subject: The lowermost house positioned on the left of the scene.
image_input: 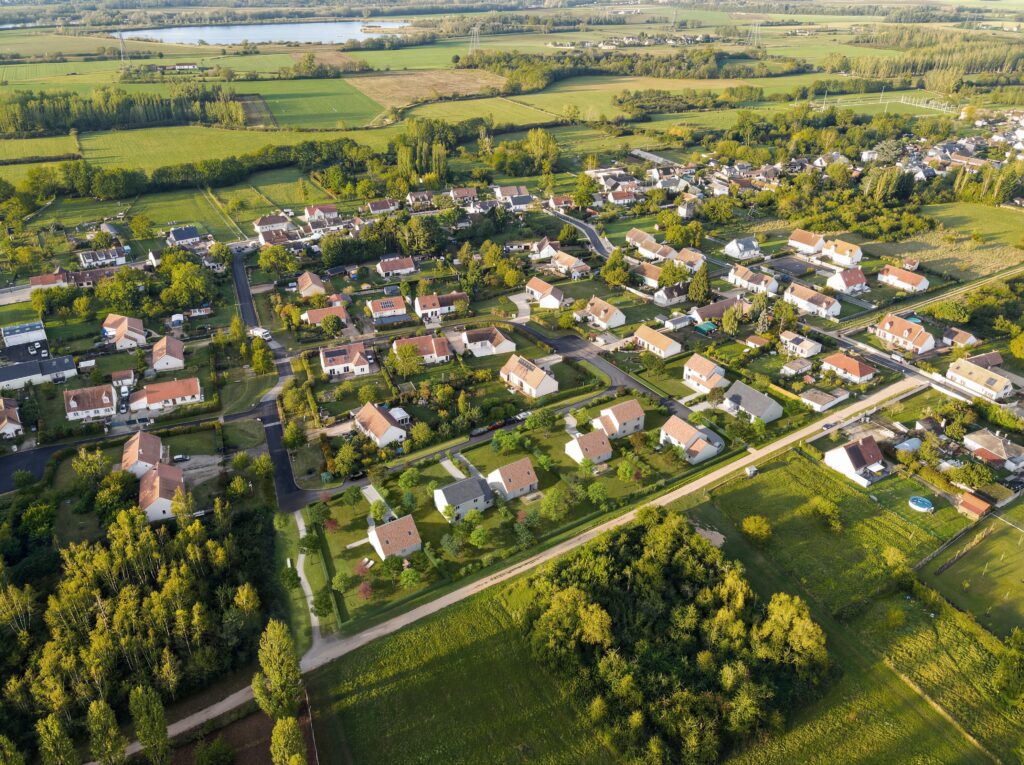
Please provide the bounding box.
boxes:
[369,514,420,559]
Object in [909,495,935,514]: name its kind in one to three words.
swimming pool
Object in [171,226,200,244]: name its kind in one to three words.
house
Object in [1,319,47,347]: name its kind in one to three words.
barn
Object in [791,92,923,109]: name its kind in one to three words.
sports field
